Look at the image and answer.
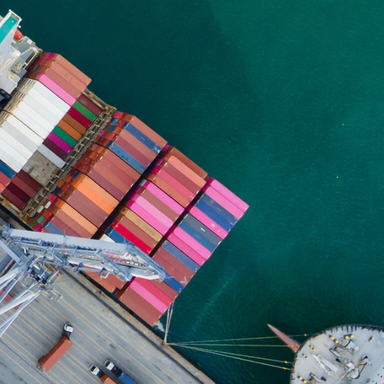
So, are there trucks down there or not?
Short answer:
Yes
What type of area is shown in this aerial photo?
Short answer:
port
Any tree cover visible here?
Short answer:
No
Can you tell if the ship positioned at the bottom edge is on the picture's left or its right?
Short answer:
right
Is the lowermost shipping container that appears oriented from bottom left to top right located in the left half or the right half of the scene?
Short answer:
left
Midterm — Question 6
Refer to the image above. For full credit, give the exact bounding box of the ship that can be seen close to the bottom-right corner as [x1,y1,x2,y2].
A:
[271,326,384,384]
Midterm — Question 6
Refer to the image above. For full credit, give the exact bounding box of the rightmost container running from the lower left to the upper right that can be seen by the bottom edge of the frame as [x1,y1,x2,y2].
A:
[37,337,66,377]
